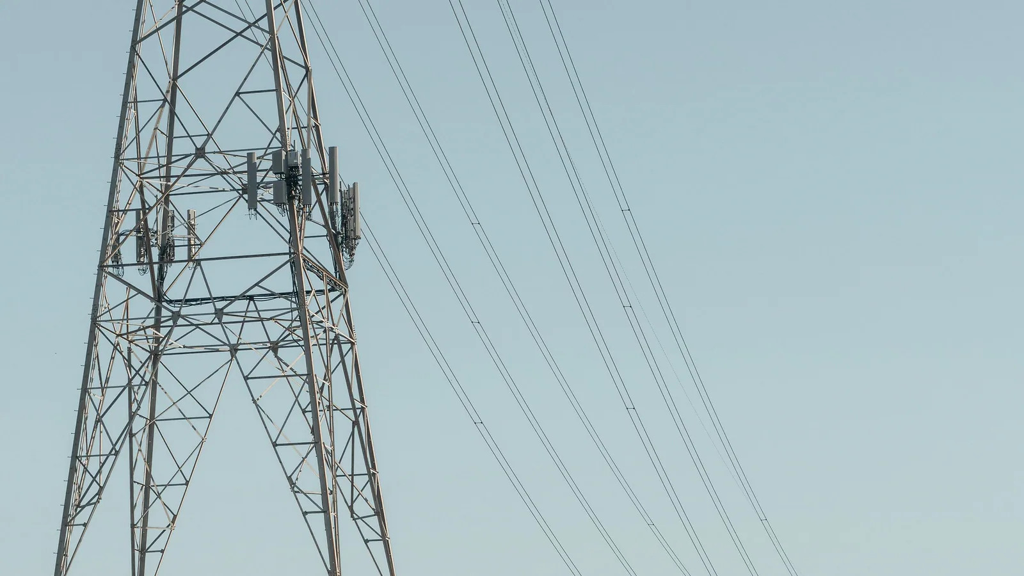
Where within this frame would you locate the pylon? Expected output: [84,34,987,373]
[51,0,396,576]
